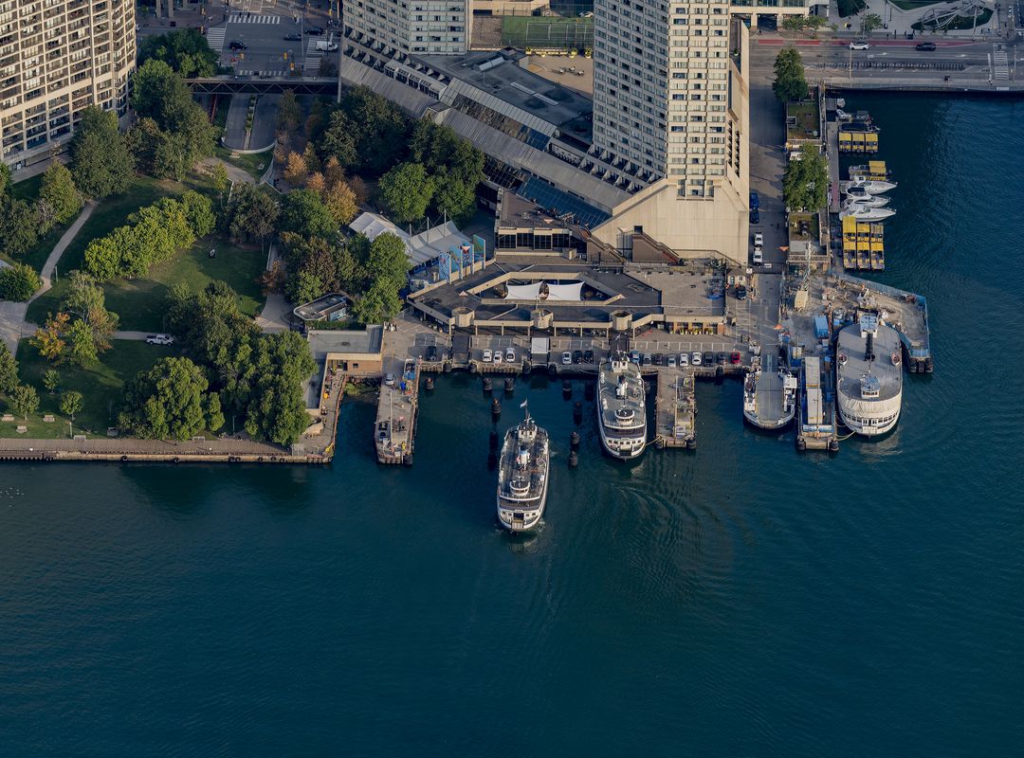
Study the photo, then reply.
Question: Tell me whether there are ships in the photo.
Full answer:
Yes, there is a ship in the image.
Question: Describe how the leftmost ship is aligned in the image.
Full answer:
Seen from above, the leftmost ship lies vertically.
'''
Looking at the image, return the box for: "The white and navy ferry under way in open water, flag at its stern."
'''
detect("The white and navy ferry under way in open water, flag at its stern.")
[497,392,555,532]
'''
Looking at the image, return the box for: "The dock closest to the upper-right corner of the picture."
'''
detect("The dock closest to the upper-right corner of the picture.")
[826,121,840,215]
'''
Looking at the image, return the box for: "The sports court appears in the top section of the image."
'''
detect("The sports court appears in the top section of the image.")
[501,0,594,49]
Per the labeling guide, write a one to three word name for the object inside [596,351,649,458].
ship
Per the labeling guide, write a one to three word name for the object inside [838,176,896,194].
boat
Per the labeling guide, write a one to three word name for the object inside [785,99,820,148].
building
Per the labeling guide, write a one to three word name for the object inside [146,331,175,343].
vehicle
